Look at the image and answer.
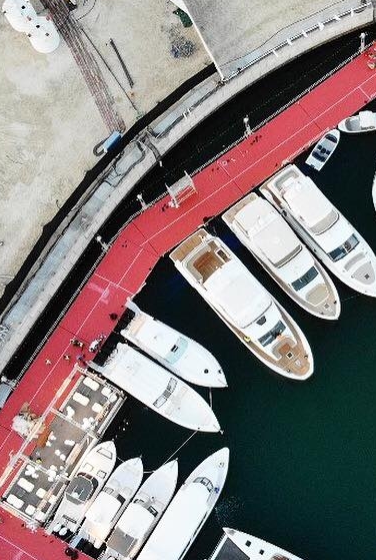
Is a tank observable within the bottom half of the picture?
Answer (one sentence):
No, no tank appears within the bottom half of the picture.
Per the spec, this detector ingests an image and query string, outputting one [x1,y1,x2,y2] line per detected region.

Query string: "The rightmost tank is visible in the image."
[30,19,65,58]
